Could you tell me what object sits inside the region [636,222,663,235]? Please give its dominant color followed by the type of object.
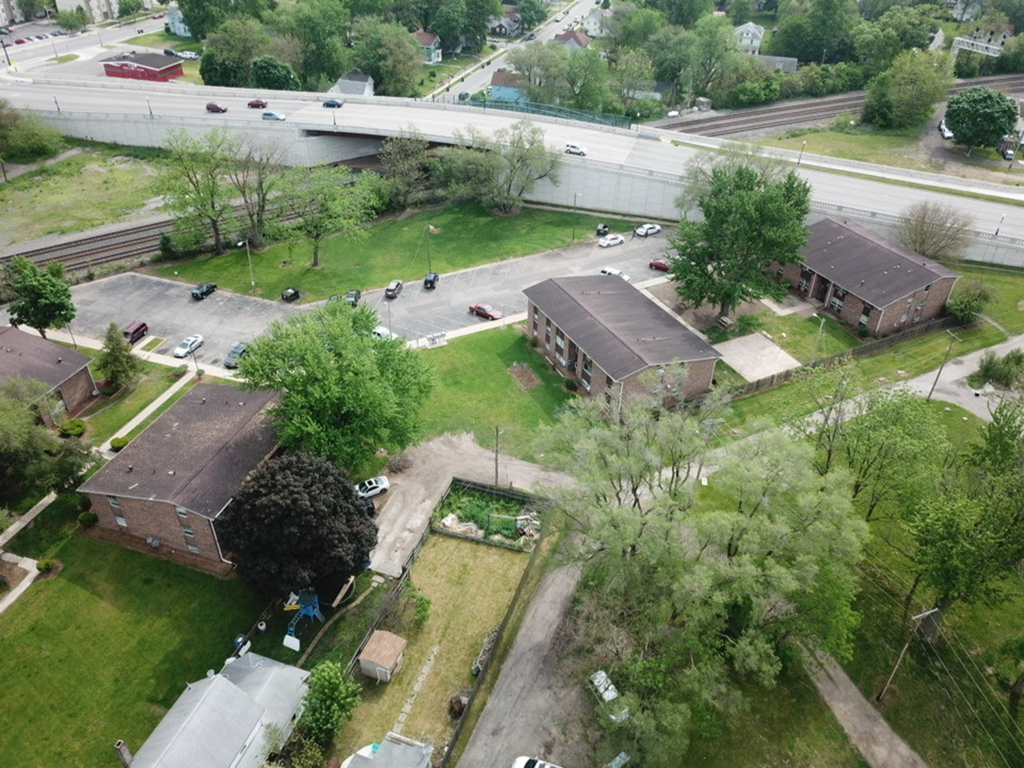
white vehicle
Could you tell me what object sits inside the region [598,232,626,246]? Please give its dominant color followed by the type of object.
white car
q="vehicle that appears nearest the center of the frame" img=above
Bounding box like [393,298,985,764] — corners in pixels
[469,301,502,318]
